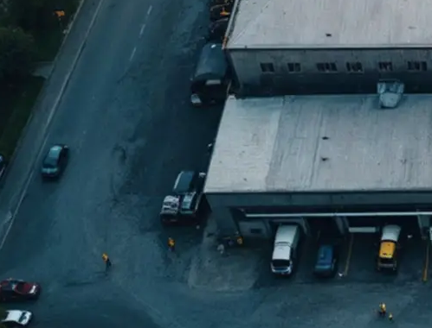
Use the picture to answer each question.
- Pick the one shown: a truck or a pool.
truck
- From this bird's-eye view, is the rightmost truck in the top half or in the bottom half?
bottom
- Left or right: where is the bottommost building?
right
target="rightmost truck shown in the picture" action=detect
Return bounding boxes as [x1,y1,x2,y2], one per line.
[369,211,402,270]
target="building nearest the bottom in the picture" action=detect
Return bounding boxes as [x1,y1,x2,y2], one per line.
[203,79,432,234]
